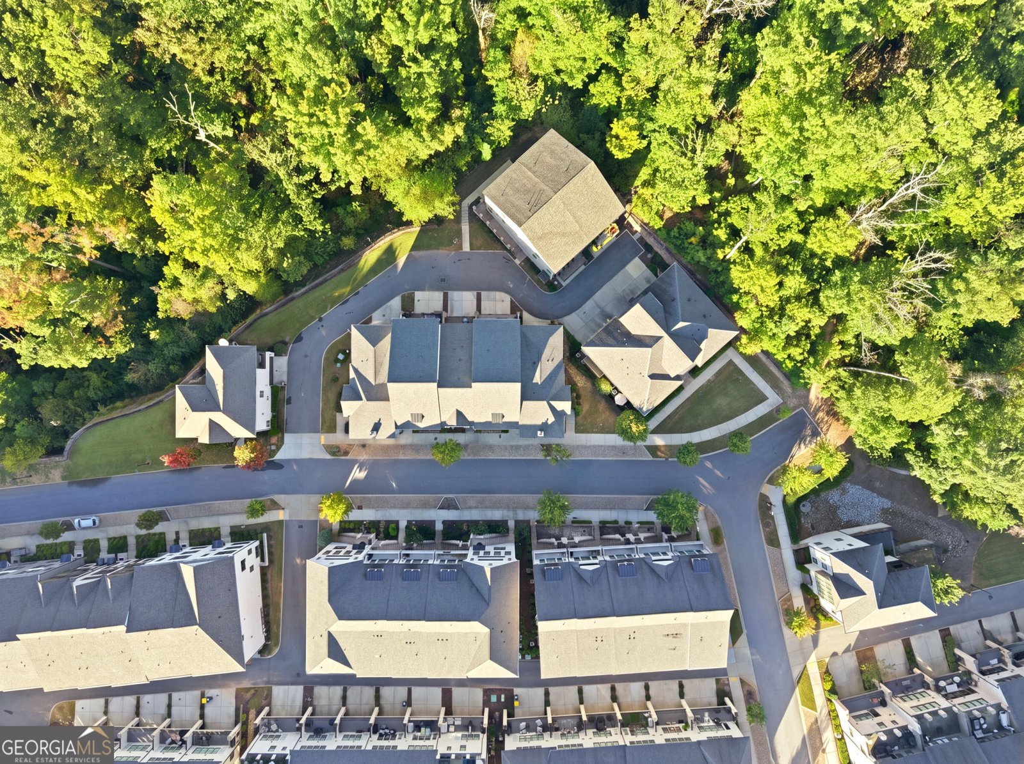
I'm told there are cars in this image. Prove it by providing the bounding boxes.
[74,517,100,529]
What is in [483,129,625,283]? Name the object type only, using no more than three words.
house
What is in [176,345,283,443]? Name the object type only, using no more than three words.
house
